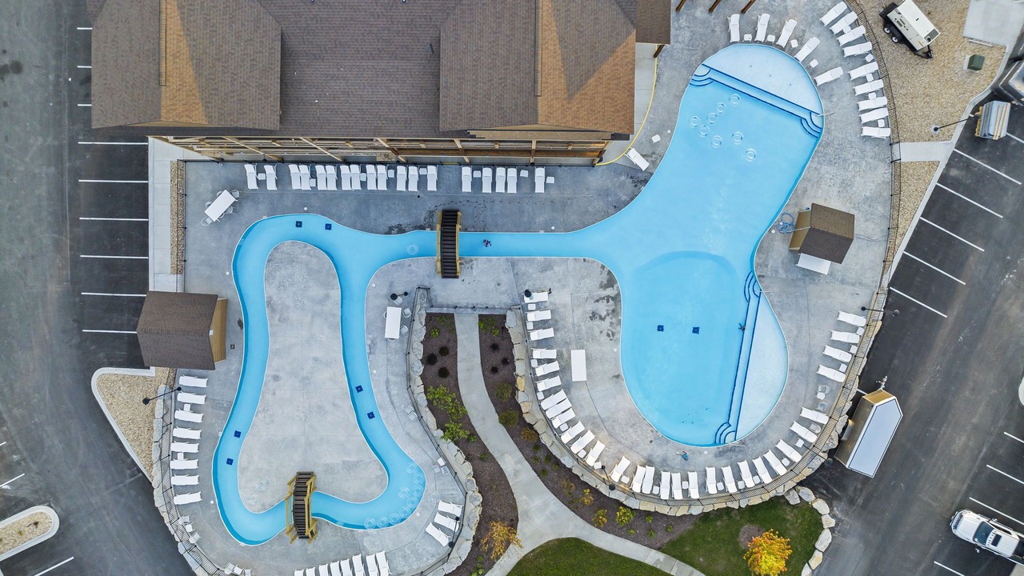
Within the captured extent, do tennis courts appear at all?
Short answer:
No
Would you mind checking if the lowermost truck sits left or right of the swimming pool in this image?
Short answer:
right of it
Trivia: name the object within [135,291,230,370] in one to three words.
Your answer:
shed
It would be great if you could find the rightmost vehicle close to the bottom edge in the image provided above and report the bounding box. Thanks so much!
[943,506,1024,565]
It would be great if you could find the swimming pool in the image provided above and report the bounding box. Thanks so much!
[211,43,835,546]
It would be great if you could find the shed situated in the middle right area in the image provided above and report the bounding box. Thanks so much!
[787,203,855,263]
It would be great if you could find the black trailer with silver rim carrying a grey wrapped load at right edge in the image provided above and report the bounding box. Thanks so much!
[987,40,1024,109]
